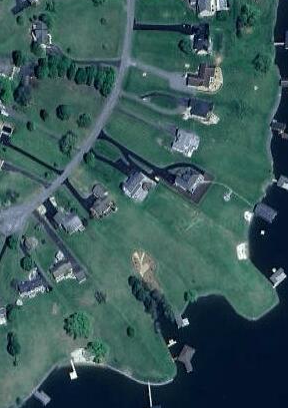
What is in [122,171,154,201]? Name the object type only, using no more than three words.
house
